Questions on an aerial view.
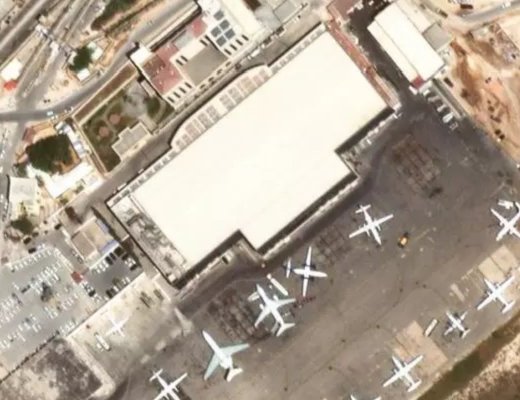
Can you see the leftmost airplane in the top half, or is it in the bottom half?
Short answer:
bottom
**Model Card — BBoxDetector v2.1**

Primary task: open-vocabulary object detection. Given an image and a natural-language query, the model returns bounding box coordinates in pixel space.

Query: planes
[285,248,328,297]
[149,369,187,400]
[493,201,520,240]
[477,276,515,313]
[382,355,424,392]
[443,312,470,338]
[257,284,296,335]
[202,330,248,383]
[349,204,393,245]
[104,316,130,341]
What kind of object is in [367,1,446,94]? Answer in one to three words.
hangar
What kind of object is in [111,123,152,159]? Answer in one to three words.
building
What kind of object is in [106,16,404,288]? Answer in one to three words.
building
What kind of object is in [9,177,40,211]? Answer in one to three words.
house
